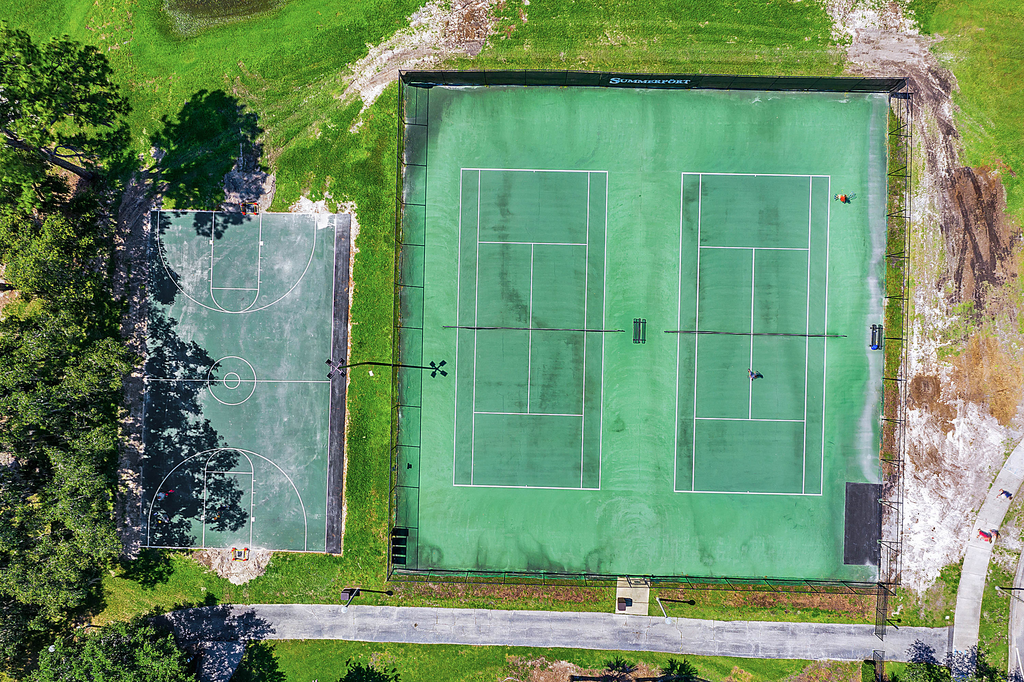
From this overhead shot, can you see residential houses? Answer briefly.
No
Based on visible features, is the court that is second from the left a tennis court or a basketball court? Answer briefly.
tennis court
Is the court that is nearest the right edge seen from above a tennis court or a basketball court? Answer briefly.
tennis court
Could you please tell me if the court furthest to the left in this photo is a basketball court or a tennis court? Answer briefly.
basketball court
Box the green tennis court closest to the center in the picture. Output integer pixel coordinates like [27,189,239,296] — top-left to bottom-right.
[453,168,608,490]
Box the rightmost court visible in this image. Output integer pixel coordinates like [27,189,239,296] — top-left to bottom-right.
[674,172,830,496]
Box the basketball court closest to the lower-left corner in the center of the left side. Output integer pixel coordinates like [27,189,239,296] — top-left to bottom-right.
[140,209,350,554]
